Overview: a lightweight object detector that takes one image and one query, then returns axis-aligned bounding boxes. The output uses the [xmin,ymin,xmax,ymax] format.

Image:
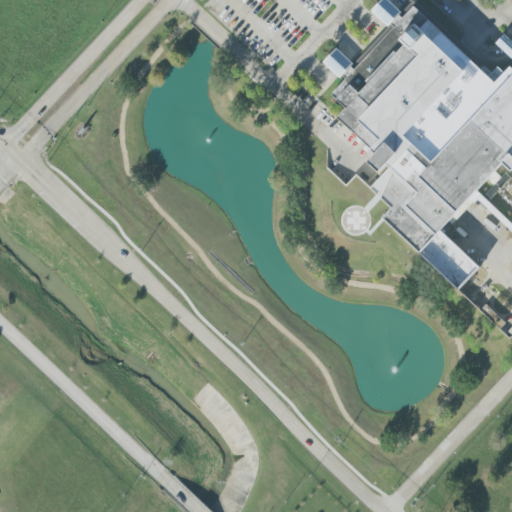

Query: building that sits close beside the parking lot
[332,5,512,328]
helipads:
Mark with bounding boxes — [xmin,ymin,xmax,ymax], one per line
[342,206,370,236]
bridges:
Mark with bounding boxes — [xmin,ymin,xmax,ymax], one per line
[140,454,214,512]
